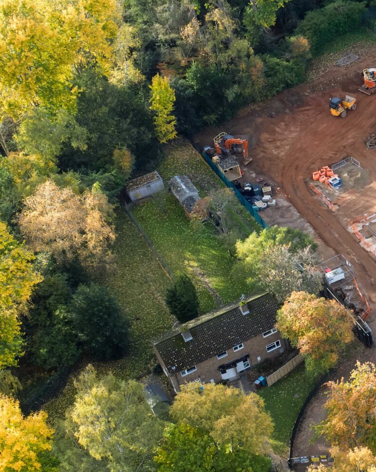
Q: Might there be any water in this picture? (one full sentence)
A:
No, no water is visible.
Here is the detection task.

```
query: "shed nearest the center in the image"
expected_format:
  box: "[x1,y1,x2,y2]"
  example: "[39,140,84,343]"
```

[164,173,202,214]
